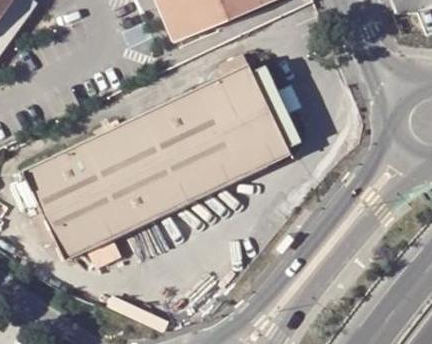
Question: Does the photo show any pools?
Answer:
No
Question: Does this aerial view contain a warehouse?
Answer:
Yes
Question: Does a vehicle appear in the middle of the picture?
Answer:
Yes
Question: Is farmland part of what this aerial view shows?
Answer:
No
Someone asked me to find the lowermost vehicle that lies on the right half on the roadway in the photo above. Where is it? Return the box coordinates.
[286,308,306,331]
